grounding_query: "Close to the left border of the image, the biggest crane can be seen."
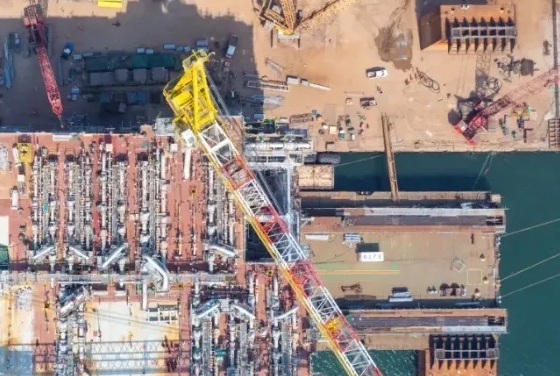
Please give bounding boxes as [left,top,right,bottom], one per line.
[20,7,65,129]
